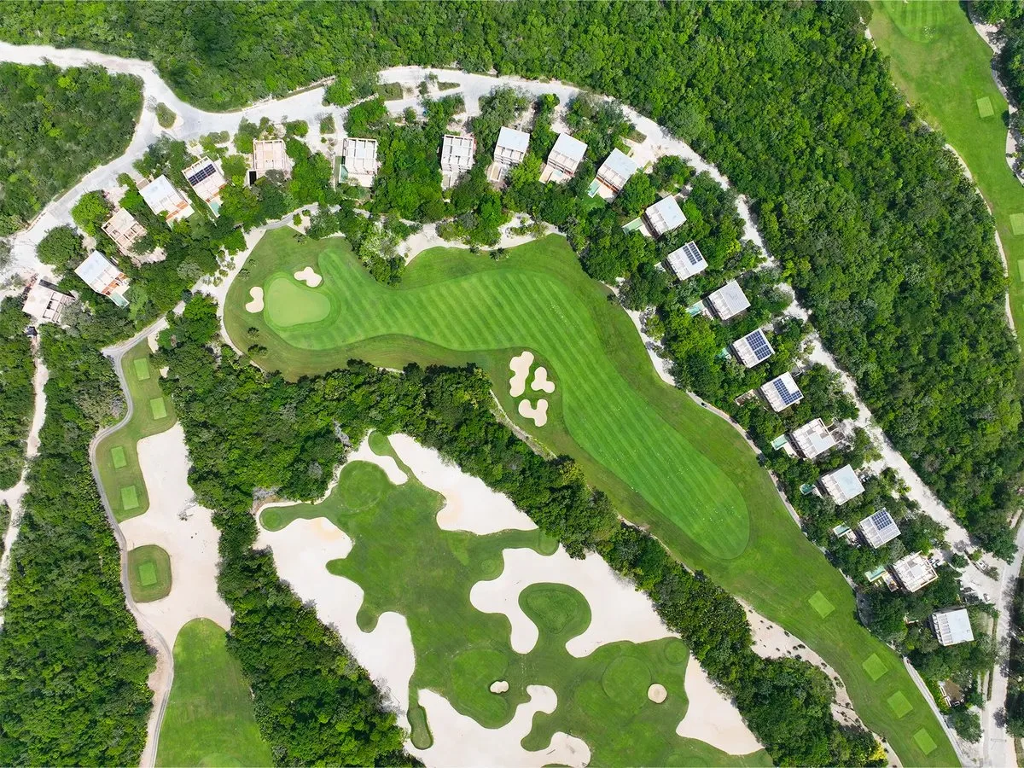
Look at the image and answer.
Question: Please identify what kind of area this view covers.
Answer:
golf course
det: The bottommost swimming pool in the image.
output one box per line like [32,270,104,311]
[865,564,887,582]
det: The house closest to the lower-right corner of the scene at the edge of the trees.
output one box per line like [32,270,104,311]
[929,604,974,645]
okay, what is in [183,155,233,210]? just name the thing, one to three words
house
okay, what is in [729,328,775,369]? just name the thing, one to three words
house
